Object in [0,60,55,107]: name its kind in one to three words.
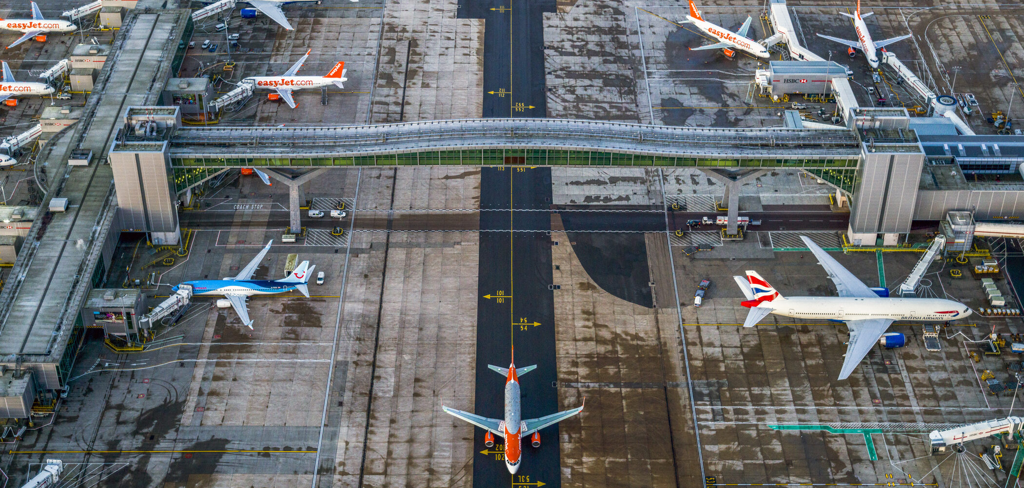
airplane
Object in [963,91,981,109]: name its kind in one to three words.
work vehicle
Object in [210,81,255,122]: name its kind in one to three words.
jet bridge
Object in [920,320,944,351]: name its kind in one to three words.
work vehicle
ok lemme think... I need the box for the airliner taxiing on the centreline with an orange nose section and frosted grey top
[441,349,582,477]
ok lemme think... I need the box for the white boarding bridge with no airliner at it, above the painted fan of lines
[929,414,1021,457]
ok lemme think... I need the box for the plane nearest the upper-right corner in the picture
[817,0,912,68]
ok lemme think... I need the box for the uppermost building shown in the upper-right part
[769,60,848,98]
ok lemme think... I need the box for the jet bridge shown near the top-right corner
[876,54,939,117]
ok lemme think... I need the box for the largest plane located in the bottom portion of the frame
[734,236,972,379]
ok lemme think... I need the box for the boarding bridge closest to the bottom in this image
[20,456,67,488]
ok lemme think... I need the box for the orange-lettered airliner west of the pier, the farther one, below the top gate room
[0,1,77,49]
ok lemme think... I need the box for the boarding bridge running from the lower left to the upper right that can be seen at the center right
[902,239,947,297]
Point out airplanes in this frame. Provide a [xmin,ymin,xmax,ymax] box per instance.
[441,349,582,477]
[734,236,972,379]
[0,1,77,49]
[817,0,912,68]
[236,47,346,107]
[0,60,55,107]
[0,150,17,173]
[240,0,335,31]
[172,239,311,329]
[674,3,770,58]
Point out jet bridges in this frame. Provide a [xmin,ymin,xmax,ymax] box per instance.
[36,57,72,88]
[929,414,1021,457]
[142,286,195,343]
[0,122,48,158]
[210,81,255,122]
[20,456,67,488]
[876,54,939,117]
[201,0,241,23]
[62,0,107,29]
[902,239,947,297]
